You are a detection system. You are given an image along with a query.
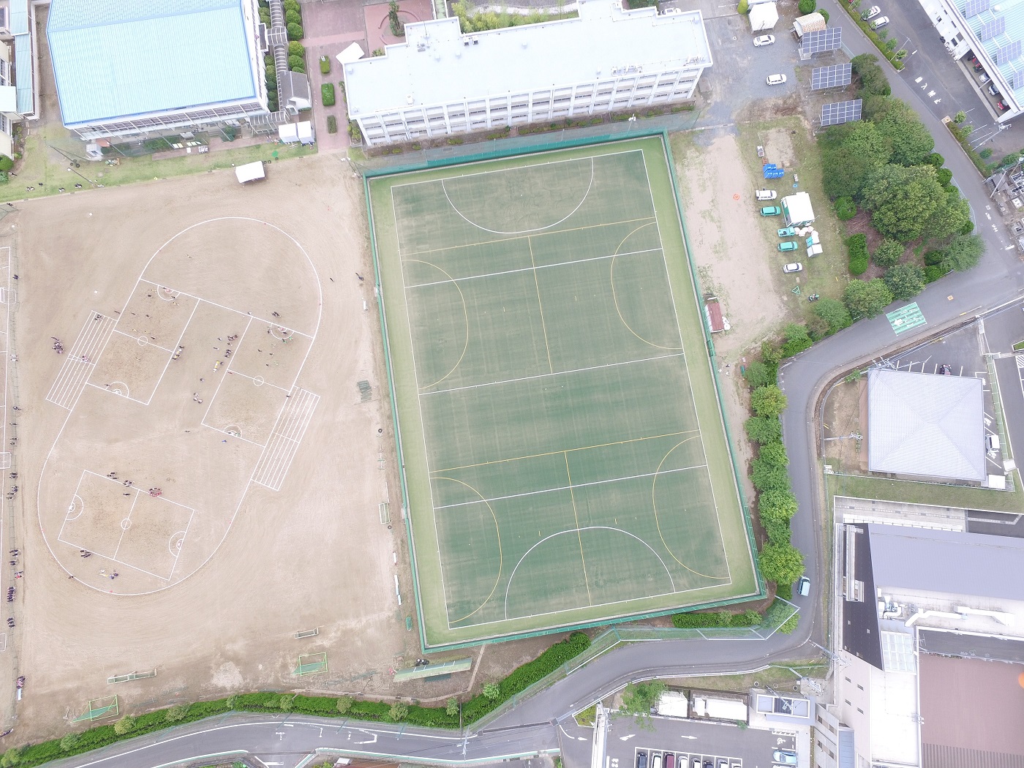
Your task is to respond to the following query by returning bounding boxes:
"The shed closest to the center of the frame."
[706,302,724,333]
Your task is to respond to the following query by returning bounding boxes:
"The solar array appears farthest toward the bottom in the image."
[818,99,862,128]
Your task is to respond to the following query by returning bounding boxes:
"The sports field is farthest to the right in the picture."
[368,134,761,651]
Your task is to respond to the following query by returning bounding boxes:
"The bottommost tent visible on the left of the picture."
[236,161,265,186]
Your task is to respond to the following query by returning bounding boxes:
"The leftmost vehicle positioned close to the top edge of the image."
[660,4,678,16]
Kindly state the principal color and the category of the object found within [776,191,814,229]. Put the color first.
white tent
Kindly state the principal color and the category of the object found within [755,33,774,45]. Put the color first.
white vehicle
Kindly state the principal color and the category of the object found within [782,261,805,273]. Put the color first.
white vehicle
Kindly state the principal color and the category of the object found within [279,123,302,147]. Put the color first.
white tent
